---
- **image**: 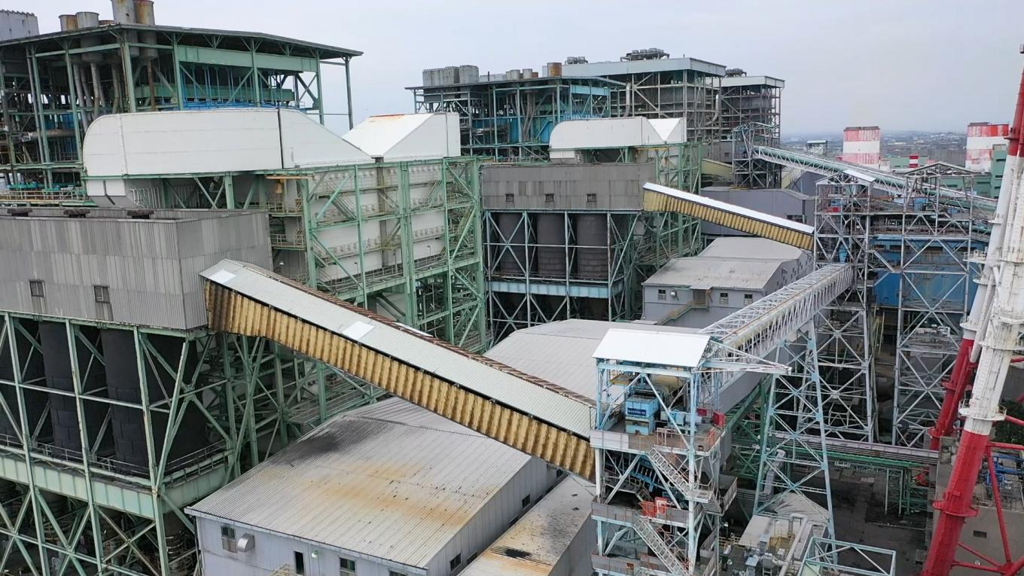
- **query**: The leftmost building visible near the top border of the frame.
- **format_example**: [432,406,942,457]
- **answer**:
[0,0,375,207]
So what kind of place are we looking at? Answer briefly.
industrial area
